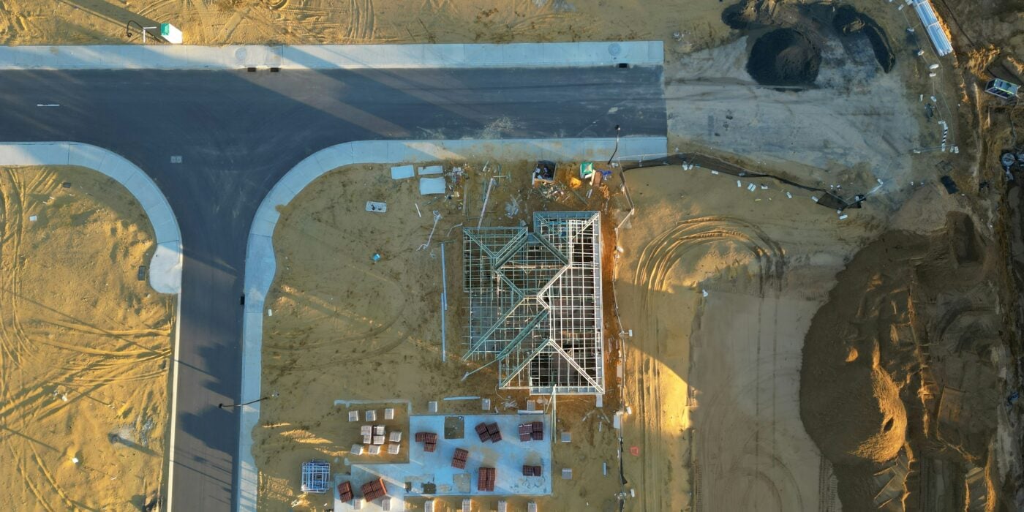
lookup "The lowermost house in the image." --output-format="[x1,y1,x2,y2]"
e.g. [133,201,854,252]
[462,211,604,393]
